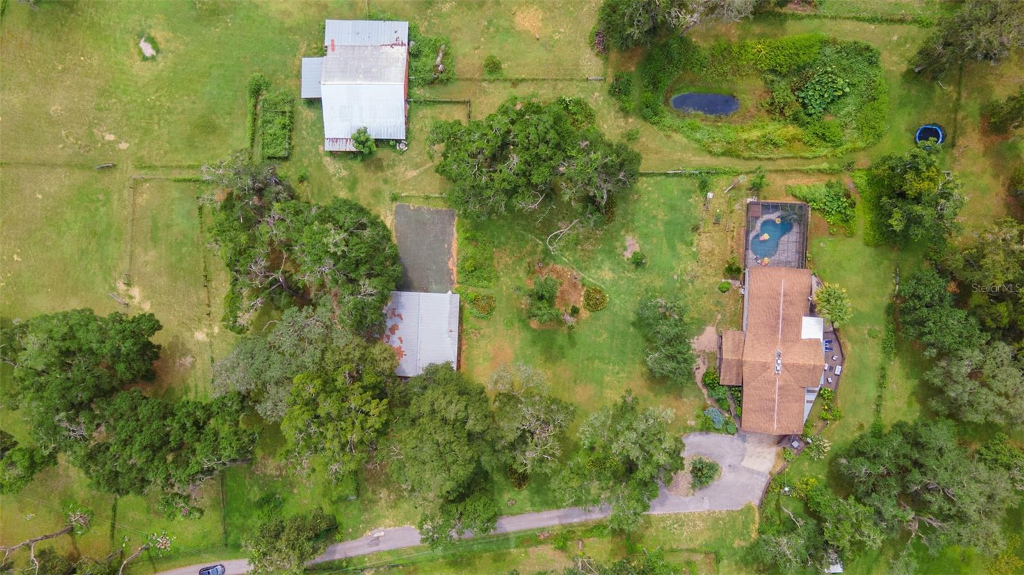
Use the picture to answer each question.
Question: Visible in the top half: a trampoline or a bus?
trampoline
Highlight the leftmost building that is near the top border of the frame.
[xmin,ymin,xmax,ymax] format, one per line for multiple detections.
[301,20,410,152]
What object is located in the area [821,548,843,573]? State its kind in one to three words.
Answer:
shed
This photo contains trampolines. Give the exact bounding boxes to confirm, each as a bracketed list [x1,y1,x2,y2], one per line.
[913,119,950,147]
